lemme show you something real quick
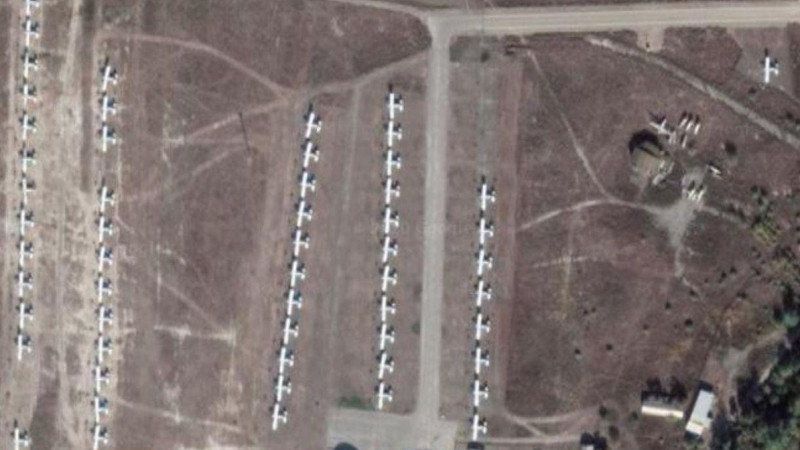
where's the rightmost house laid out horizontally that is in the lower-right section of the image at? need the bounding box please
[641,400,684,417]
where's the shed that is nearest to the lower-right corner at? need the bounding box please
[686,390,715,438]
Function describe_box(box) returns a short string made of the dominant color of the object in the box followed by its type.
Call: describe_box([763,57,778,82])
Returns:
white airplane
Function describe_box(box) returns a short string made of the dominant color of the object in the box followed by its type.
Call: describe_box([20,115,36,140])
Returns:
white airplane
